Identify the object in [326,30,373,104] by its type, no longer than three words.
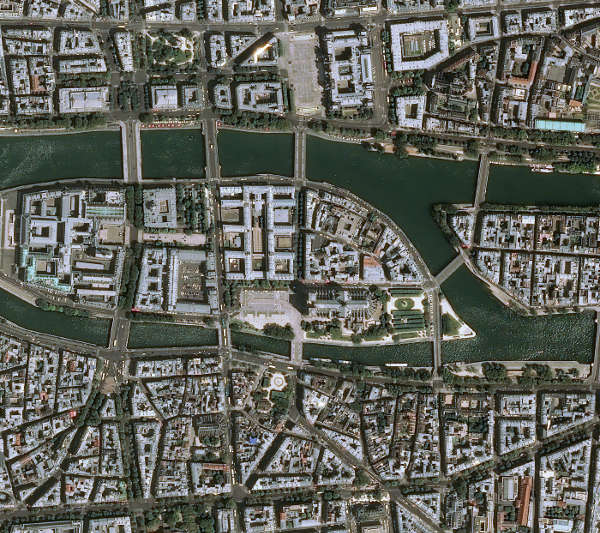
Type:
building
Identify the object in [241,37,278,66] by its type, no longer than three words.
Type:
building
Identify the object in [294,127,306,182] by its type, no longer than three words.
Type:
bridge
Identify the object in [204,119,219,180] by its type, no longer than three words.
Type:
bridge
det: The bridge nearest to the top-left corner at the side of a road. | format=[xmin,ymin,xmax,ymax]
[122,120,144,180]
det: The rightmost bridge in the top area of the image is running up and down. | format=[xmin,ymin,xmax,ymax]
[473,151,491,211]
